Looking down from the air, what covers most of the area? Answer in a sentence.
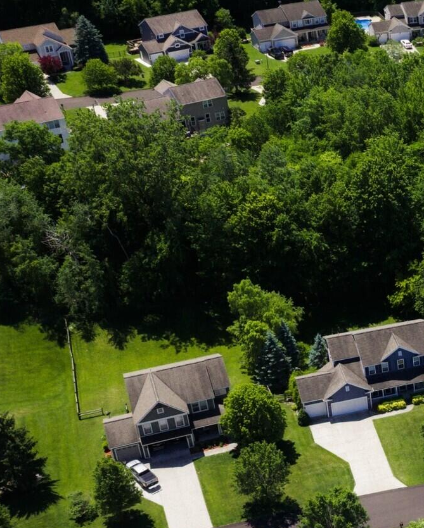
What you mostly see from above here is trees.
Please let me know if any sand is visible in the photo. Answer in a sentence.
No, the scene doesn't show any sand.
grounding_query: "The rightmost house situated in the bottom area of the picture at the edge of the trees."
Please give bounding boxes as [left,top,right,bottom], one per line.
[293,323,424,418]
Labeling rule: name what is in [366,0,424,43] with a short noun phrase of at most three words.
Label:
house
